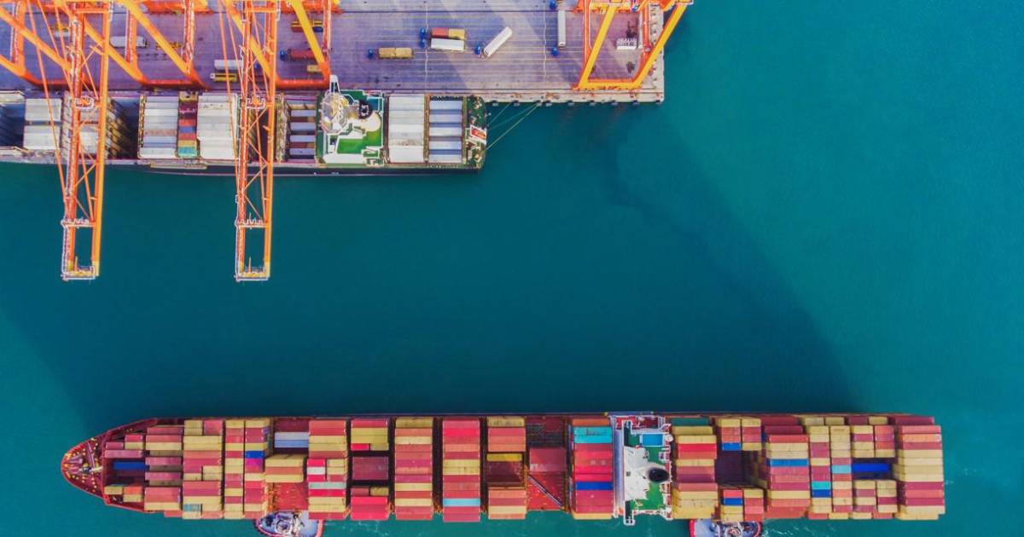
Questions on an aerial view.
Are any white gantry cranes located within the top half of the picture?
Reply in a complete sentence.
No, no white gantry crane appears within the top half of the picture.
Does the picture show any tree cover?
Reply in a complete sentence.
No, no tree cover is visible.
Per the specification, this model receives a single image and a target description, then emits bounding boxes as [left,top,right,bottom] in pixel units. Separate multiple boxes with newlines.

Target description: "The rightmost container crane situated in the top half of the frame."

[569,0,689,90]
